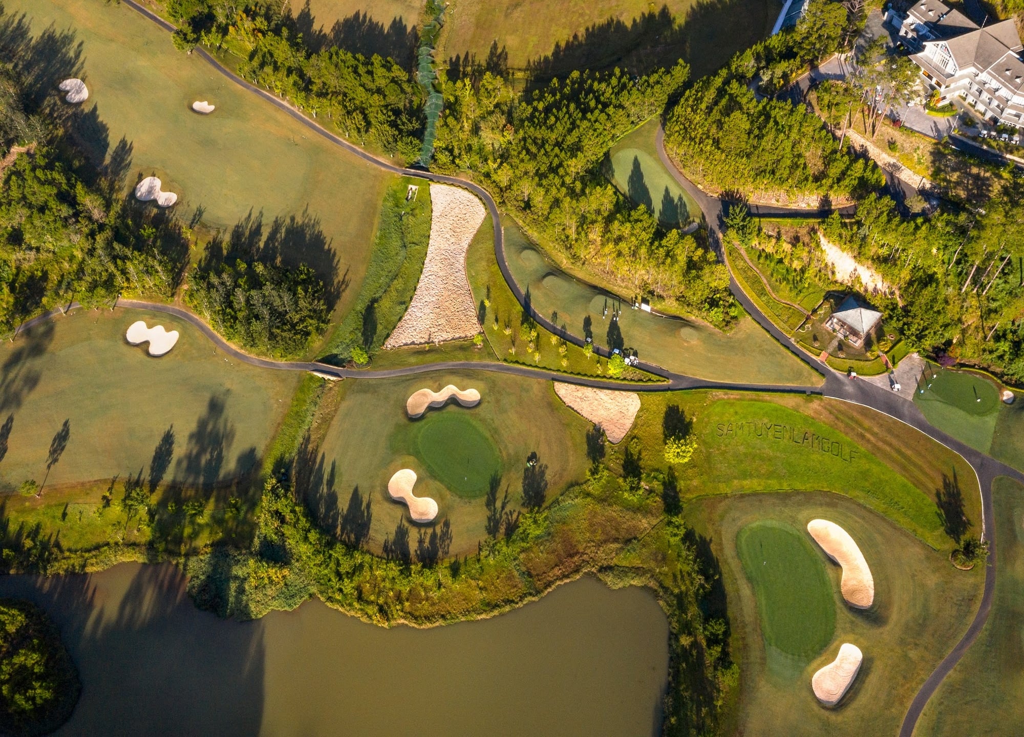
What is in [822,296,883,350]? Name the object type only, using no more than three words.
building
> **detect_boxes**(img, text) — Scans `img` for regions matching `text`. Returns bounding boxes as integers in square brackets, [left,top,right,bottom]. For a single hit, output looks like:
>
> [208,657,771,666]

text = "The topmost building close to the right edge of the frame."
[882,0,1024,121]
